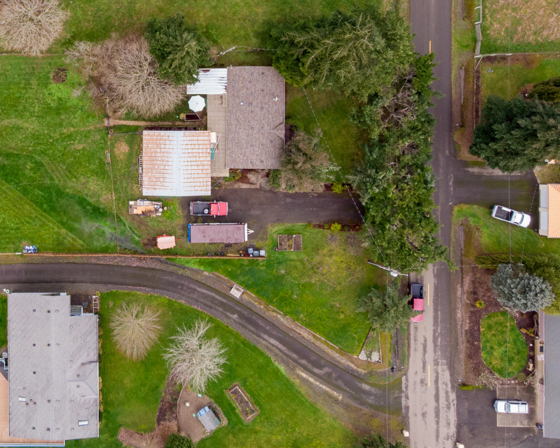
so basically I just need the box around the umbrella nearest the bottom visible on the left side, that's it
[190,95,207,112]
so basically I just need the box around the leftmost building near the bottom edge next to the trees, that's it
[7,292,99,441]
